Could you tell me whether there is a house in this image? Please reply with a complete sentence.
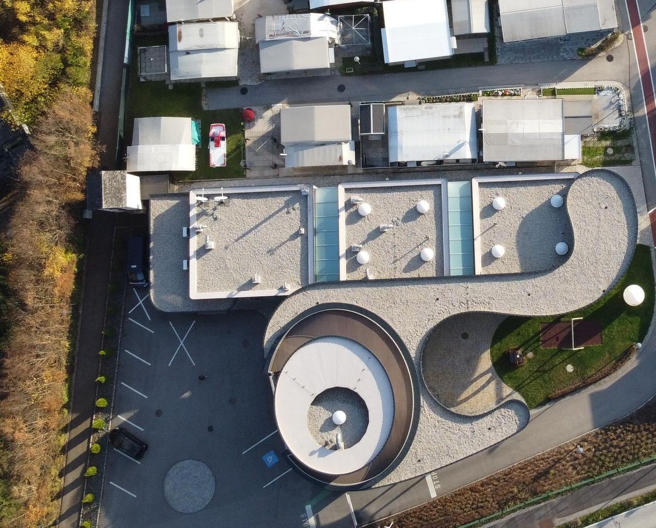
Yes, a house appears in the view.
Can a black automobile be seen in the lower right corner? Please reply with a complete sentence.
No, no black automobile appears in the lower right corner.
